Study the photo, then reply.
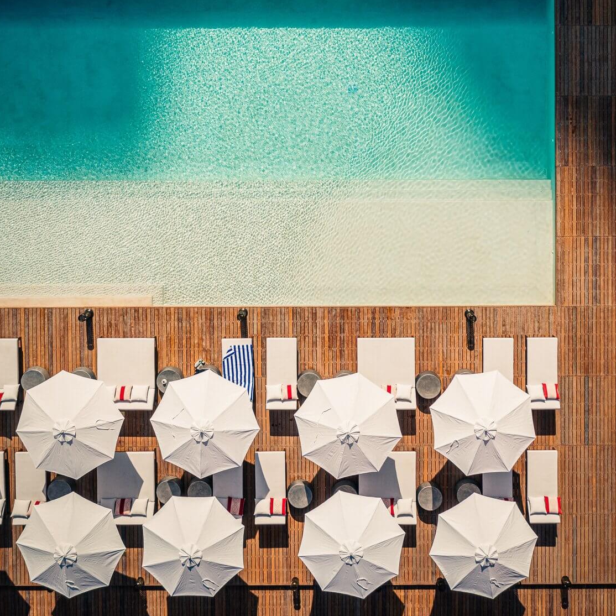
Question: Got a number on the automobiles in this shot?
0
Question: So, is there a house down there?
No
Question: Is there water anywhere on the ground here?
Yes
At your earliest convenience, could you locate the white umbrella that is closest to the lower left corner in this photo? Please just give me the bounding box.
[16,491,127,600]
